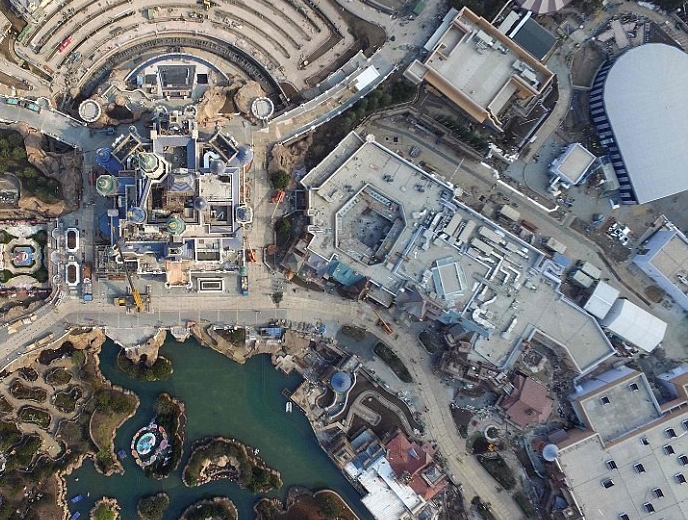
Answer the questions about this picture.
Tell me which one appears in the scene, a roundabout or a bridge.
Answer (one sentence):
It is a bridge that can be seen here.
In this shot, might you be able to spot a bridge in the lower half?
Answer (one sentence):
No, no bridge appears in the lower half.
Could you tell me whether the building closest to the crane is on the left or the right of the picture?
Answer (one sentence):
The building closest to the crane appears in the left half of the scene.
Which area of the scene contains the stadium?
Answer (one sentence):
Look in the top right portion of the view to spot the stadium.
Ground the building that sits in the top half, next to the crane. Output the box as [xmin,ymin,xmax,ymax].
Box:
[93,115,255,291]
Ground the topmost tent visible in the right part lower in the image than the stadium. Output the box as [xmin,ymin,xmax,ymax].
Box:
[582,281,619,319]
